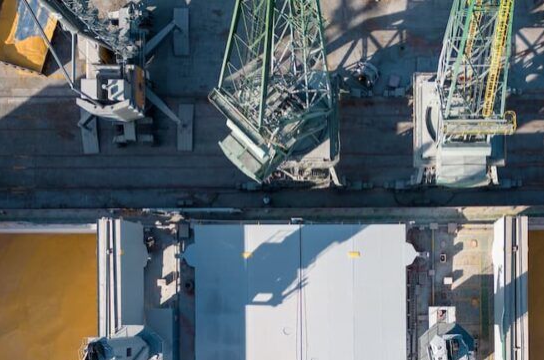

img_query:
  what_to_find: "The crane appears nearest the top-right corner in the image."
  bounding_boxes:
[390,0,524,192]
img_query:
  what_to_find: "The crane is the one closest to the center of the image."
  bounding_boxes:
[197,0,362,189]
